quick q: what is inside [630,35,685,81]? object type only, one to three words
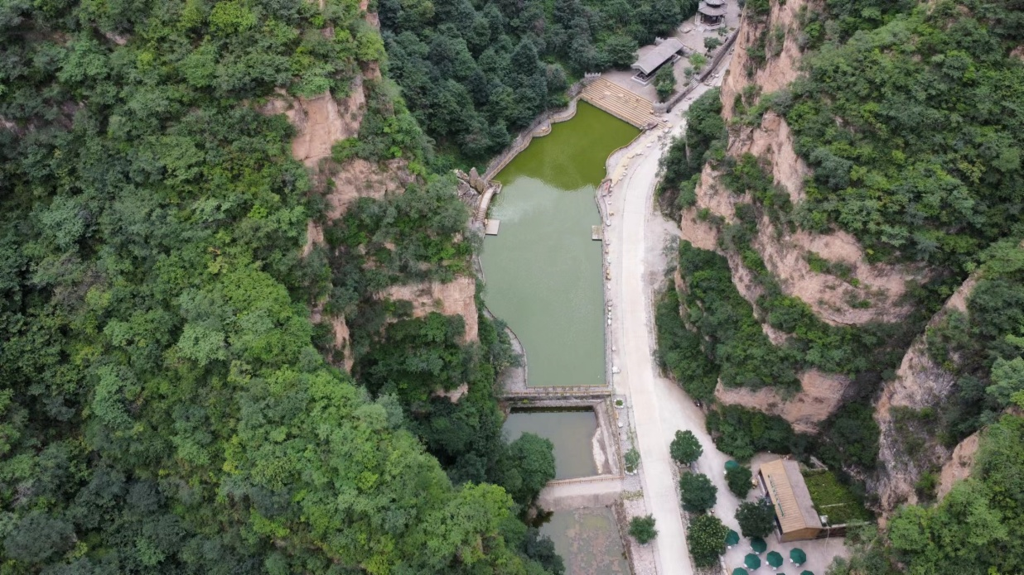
building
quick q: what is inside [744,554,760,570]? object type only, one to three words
umbrella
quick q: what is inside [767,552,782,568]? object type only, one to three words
umbrella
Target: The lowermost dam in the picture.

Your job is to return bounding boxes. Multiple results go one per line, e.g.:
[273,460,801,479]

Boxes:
[533,474,623,509]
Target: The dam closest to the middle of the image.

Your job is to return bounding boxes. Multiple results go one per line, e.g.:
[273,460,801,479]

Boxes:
[500,385,612,415]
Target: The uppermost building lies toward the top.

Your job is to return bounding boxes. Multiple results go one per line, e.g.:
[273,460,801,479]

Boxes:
[696,0,730,33]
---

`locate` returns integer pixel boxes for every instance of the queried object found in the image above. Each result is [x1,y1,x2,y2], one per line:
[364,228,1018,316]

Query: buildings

[630,35,685,81]
[752,463,824,541]
[696,0,730,33]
